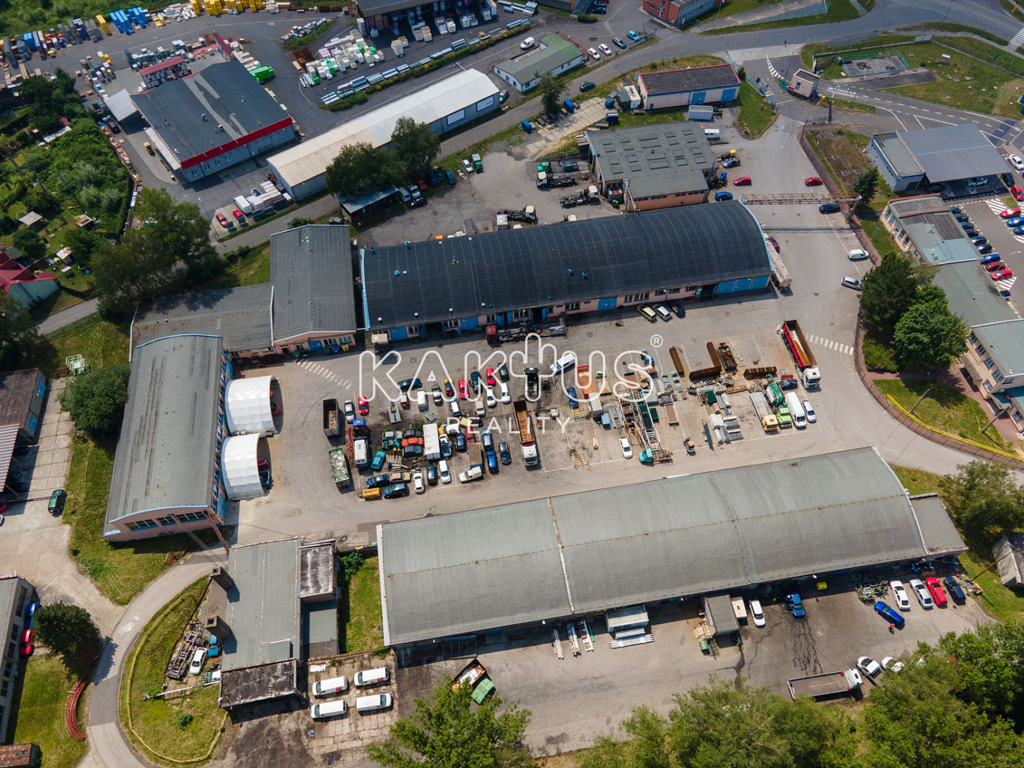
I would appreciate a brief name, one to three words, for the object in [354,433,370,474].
vehicle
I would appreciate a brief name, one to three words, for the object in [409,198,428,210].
vehicle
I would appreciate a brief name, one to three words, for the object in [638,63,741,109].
building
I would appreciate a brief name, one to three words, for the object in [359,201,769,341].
hangar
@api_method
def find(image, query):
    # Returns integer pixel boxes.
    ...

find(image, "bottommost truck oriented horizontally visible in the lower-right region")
[785,664,870,699]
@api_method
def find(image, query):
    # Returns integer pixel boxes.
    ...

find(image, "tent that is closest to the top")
[225,381,280,438]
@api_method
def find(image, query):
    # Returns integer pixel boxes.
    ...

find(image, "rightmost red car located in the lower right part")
[924,578,948,608]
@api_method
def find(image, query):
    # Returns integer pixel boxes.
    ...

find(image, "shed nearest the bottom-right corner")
[977,541,1024,588]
